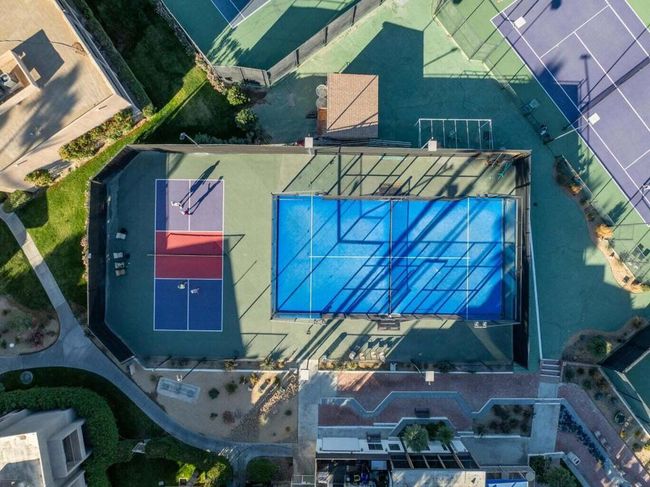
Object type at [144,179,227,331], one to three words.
sports court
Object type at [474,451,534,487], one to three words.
building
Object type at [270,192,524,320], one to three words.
sports court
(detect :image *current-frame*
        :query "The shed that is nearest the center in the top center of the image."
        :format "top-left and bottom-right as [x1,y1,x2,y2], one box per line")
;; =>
[326,74,378,143]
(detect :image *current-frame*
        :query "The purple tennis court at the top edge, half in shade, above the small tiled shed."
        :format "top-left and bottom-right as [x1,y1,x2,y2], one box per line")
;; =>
[168,0,381,83]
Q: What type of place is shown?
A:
sports ground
